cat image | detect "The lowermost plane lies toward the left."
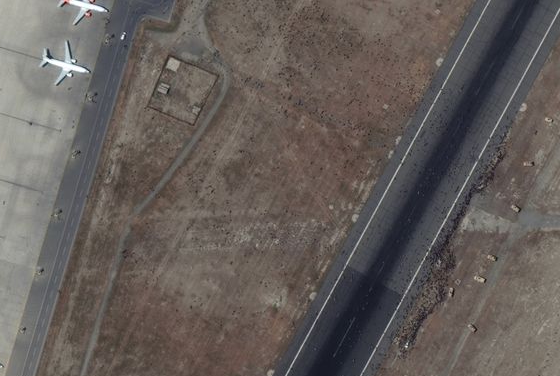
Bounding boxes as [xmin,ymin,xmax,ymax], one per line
[41,42,89,84]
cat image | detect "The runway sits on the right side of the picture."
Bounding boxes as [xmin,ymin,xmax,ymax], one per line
[273,0,560,376]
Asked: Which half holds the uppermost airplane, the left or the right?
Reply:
left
